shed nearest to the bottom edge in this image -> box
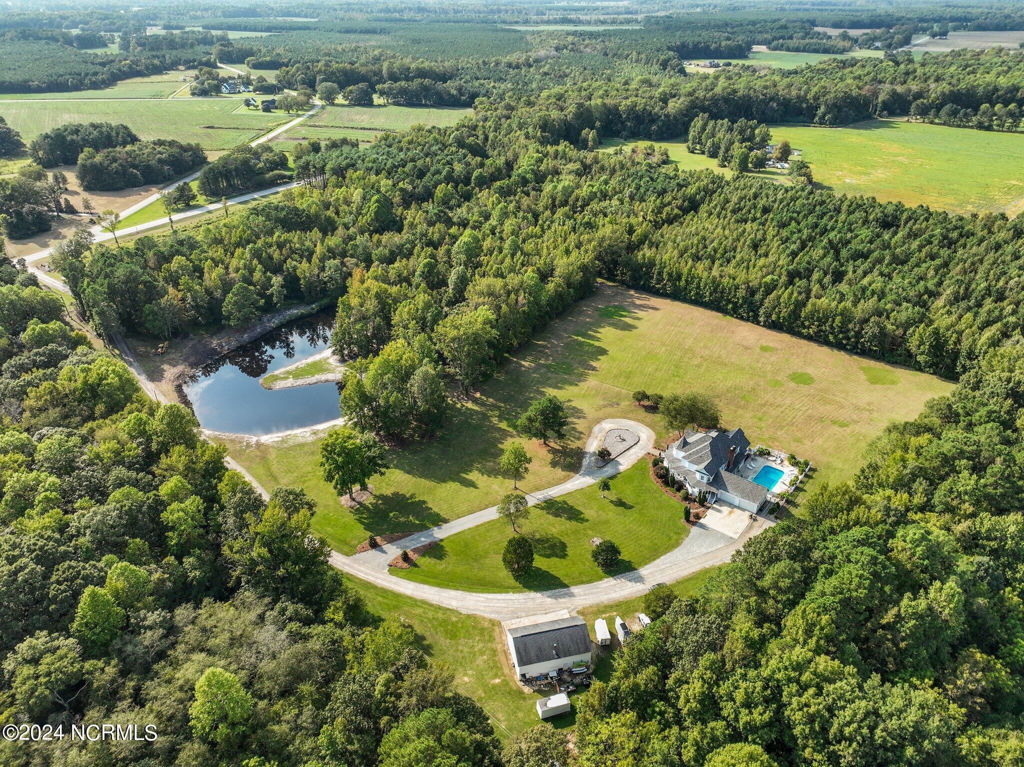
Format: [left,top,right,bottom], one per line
[537,692,571,718]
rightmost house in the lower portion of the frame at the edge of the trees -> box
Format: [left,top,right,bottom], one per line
[664,425,768,513]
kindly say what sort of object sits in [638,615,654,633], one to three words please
vehicle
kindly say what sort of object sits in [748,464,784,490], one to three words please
swimming pool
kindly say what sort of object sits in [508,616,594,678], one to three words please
barn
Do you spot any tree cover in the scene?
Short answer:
Yes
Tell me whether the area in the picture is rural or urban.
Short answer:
rural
